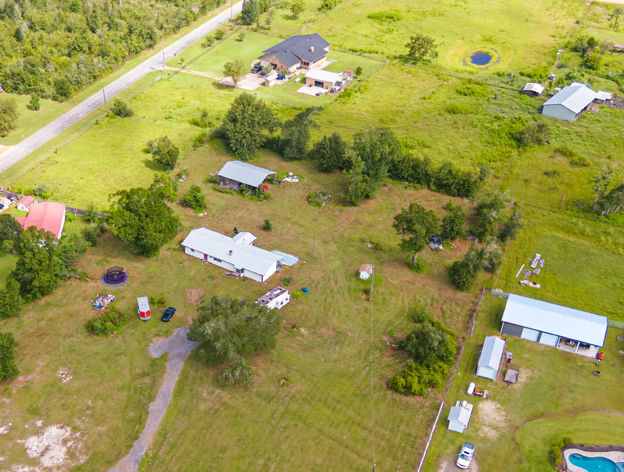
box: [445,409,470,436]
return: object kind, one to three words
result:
shed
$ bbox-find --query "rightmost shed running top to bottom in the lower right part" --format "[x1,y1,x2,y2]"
[477,335,503,379]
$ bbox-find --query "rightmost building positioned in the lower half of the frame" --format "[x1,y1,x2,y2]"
[500,294,607,360]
